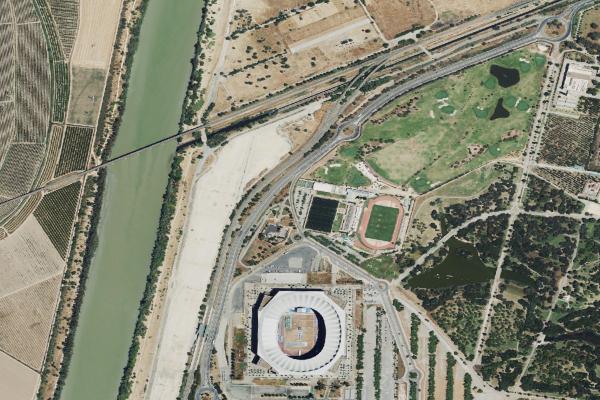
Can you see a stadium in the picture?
Yes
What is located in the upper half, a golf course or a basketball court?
golf course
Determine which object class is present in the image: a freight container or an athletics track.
athletics track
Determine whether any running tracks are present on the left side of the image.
No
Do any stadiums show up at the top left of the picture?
No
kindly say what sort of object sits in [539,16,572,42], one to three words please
roundabout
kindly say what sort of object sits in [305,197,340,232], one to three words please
soccer field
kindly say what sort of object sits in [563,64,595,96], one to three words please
building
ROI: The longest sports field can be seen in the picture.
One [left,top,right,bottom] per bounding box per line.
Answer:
[294,178,420,252]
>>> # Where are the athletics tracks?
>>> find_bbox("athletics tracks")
[359,193,405,252]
